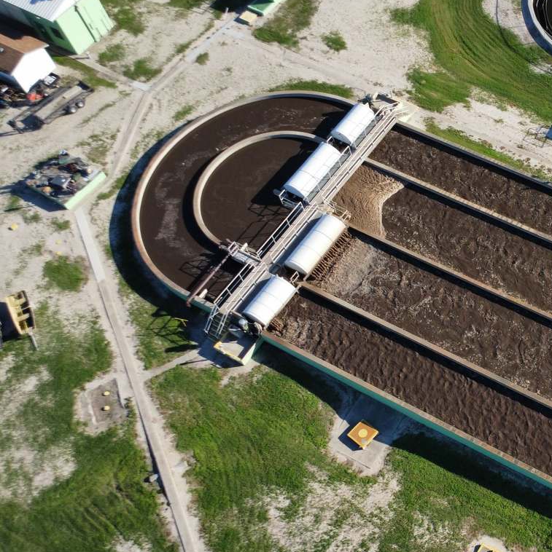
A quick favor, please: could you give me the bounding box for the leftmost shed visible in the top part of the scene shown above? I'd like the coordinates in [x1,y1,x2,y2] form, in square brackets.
[0,25,56,91]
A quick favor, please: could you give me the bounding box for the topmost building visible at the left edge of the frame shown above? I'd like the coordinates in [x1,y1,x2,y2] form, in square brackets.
[0,0,114,54]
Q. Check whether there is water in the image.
Yes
